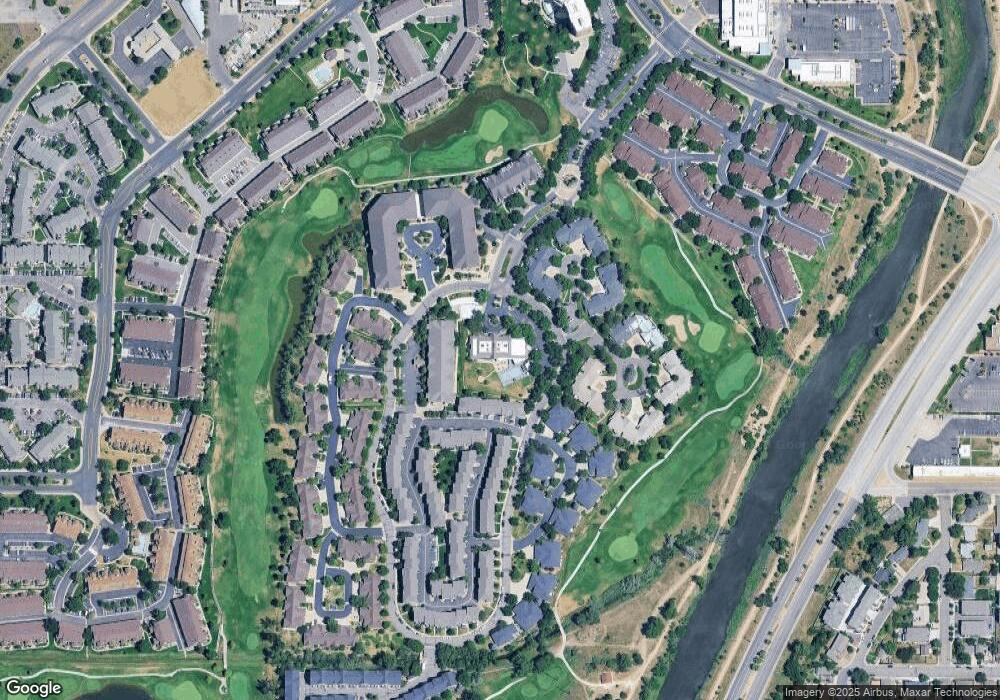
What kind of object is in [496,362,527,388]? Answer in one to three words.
swimming pool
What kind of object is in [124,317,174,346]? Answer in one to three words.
building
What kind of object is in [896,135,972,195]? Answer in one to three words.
bridge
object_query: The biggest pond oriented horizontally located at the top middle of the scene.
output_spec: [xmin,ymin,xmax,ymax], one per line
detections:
[405,85,549,153]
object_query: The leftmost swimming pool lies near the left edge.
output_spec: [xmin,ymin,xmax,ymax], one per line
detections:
[24,298,44,316]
